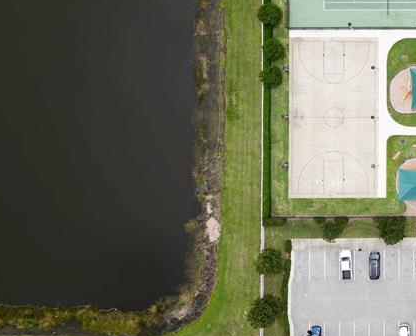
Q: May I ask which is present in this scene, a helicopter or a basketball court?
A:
basketball court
